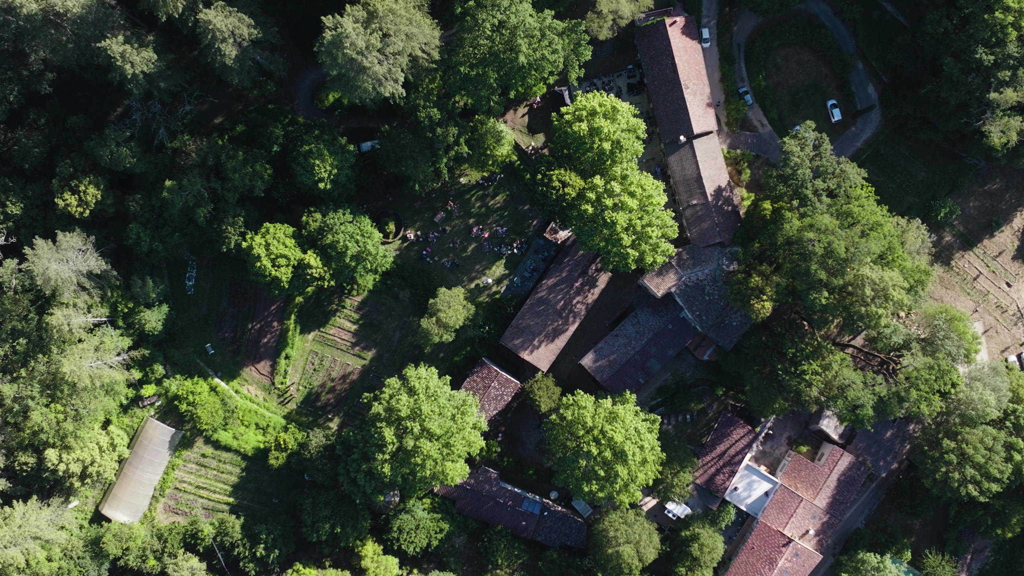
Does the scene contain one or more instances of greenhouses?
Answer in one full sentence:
Yes, a greenhouse is visible in the scene.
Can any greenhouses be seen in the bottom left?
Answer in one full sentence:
Yes, I can see a greenhouse in the bottom left.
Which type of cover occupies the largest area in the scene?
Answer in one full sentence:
The scene is dominated by trees.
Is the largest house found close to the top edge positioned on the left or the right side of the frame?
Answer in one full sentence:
The largest house found close to the top edge appears in the right half of the scene.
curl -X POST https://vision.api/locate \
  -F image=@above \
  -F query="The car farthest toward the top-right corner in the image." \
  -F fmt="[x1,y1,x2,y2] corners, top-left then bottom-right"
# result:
[828,98,843,123]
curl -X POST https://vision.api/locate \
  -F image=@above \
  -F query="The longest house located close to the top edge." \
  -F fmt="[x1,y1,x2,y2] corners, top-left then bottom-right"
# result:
[632,15,719,147]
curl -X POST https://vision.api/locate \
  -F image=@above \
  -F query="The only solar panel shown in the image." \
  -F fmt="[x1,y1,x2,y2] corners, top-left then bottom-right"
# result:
[521,496,543,515]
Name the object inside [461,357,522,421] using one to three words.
house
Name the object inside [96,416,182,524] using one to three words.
greenhouse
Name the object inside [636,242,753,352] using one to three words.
house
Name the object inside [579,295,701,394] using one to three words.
barn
